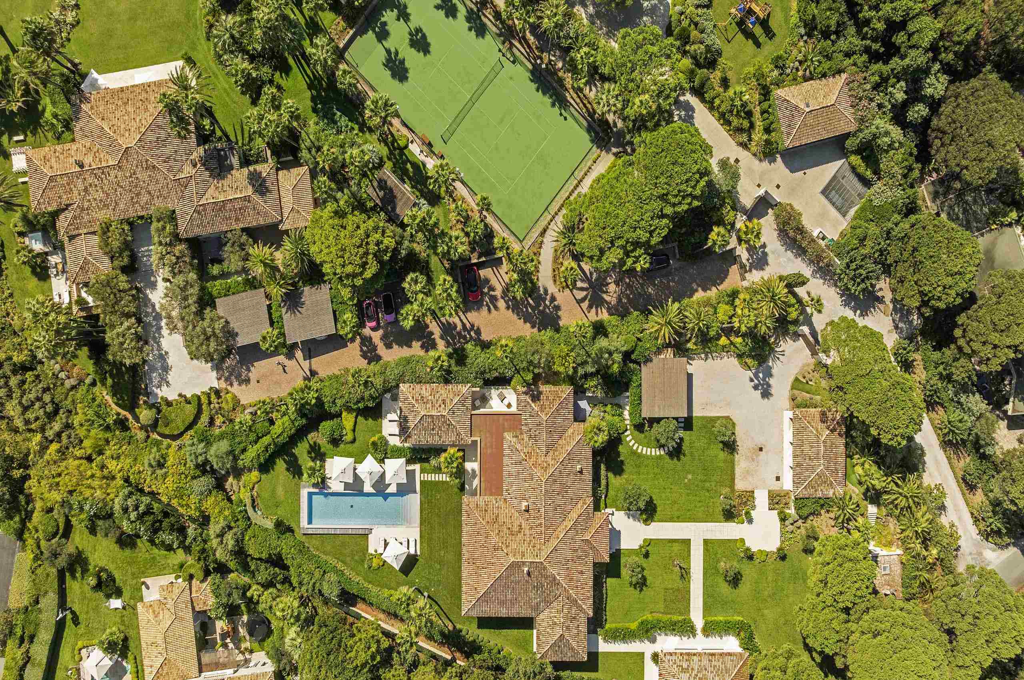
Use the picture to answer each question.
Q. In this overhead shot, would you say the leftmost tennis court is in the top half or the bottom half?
top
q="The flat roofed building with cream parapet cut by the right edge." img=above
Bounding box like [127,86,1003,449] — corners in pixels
[996,359,1024,415]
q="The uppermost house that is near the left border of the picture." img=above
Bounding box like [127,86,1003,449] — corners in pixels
[24,75,322,317]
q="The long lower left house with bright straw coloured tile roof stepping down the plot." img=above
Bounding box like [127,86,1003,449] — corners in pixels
[136,576,278,680]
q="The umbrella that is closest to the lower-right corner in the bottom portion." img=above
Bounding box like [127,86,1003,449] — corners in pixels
[577,400,592,420]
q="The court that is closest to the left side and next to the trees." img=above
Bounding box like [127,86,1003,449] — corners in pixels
[347,0,601,241]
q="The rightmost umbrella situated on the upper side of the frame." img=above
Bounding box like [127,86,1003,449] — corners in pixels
[81,69,107,92]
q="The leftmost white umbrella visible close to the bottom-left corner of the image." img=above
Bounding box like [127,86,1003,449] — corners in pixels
[84,647,113,680]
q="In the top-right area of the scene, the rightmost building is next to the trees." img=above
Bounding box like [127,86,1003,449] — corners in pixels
[774,73,858,147]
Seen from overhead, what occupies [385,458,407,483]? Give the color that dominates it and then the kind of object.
white umbrella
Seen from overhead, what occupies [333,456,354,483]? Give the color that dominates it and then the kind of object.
white umbrella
